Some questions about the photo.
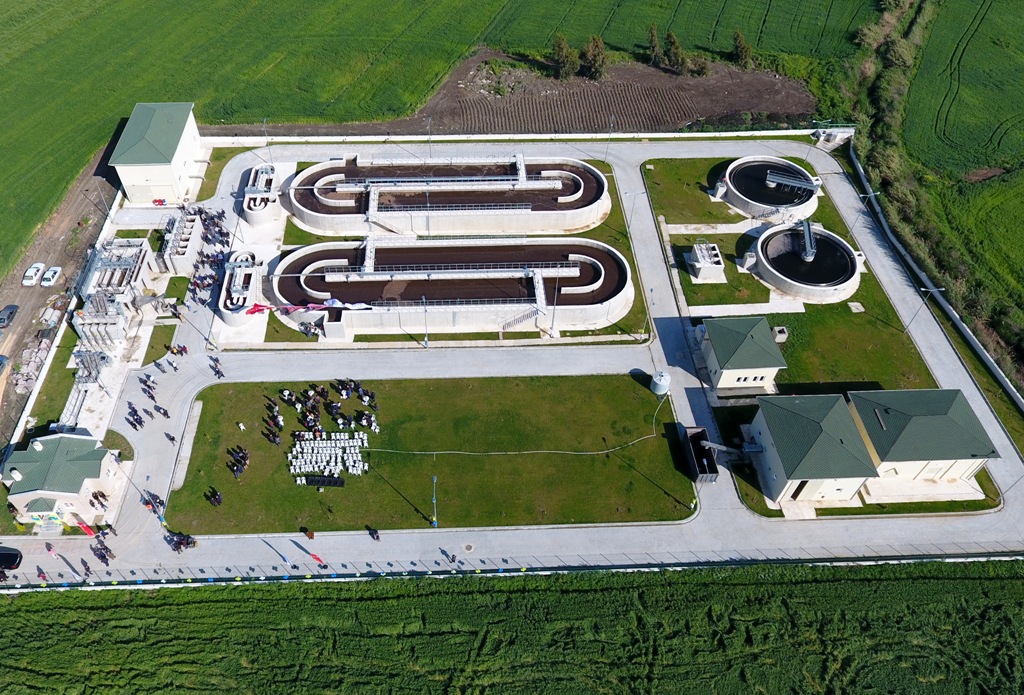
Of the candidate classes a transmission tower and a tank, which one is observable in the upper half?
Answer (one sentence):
The feature located in the upper half is a tank.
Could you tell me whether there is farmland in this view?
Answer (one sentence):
Yes, some farmland is visible.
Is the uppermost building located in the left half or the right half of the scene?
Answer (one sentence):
You can find the uppermost building on the left side of the picture.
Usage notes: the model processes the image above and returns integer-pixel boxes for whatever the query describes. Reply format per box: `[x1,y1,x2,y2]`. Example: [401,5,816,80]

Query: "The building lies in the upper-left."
[109,103,209,202]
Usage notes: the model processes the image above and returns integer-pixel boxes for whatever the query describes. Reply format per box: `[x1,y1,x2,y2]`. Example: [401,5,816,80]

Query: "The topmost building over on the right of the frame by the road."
[702,317,787,386]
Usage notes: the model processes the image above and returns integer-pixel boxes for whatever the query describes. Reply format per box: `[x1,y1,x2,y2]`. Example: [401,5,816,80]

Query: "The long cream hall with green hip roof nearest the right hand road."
[847,388,1002,481]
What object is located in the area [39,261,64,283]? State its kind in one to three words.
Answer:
car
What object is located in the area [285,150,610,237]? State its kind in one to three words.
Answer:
storage tank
